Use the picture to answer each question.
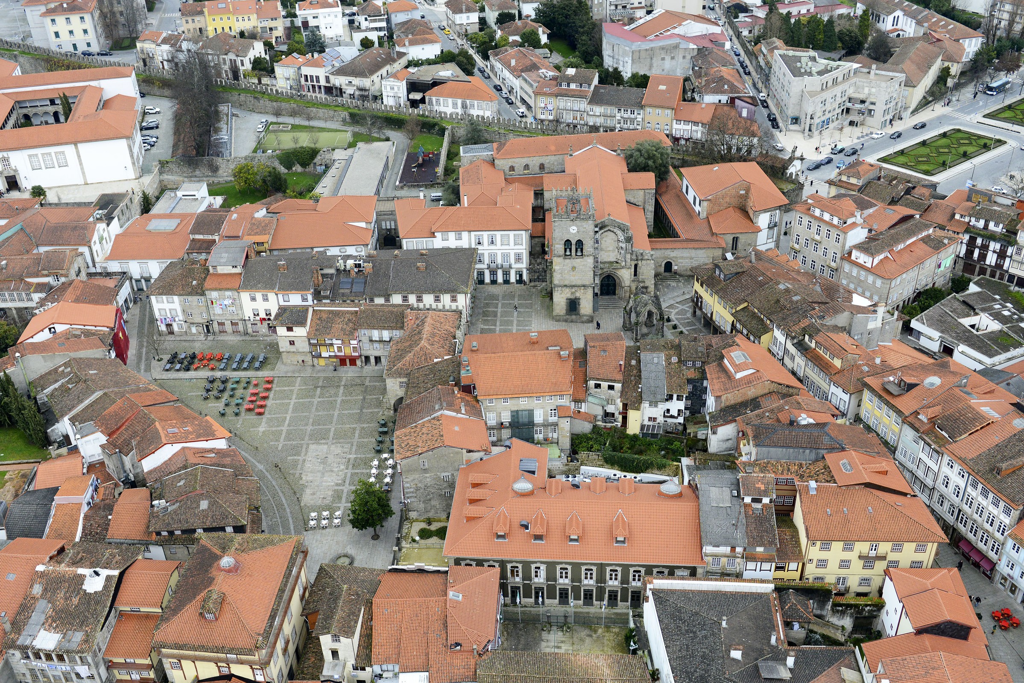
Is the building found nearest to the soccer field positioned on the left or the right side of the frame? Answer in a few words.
left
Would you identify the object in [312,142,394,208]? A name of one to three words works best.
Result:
building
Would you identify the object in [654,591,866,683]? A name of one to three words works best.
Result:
house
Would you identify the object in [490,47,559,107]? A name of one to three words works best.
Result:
house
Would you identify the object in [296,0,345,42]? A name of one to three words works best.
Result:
building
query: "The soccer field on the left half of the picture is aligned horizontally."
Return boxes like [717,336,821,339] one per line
[261,132,347,149]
